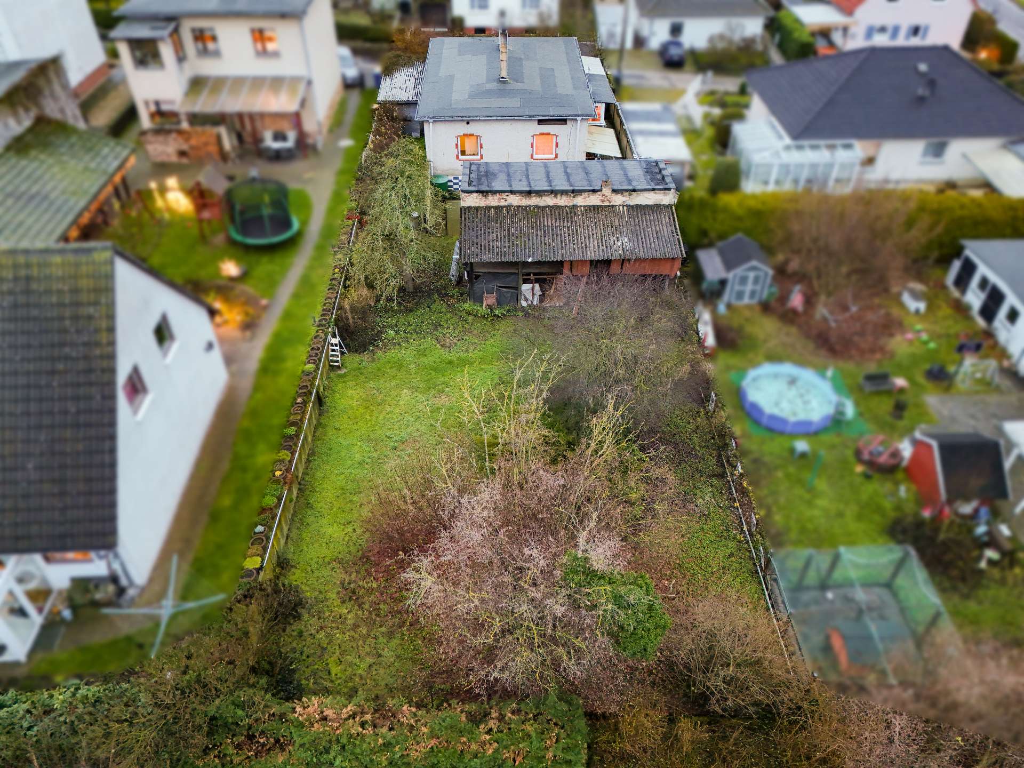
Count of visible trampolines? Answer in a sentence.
There is 1 trampoline in the image.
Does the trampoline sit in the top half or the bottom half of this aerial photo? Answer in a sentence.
The trampoline is in the top half of the image.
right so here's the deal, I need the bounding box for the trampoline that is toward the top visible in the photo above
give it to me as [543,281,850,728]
[218,172,305,253]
